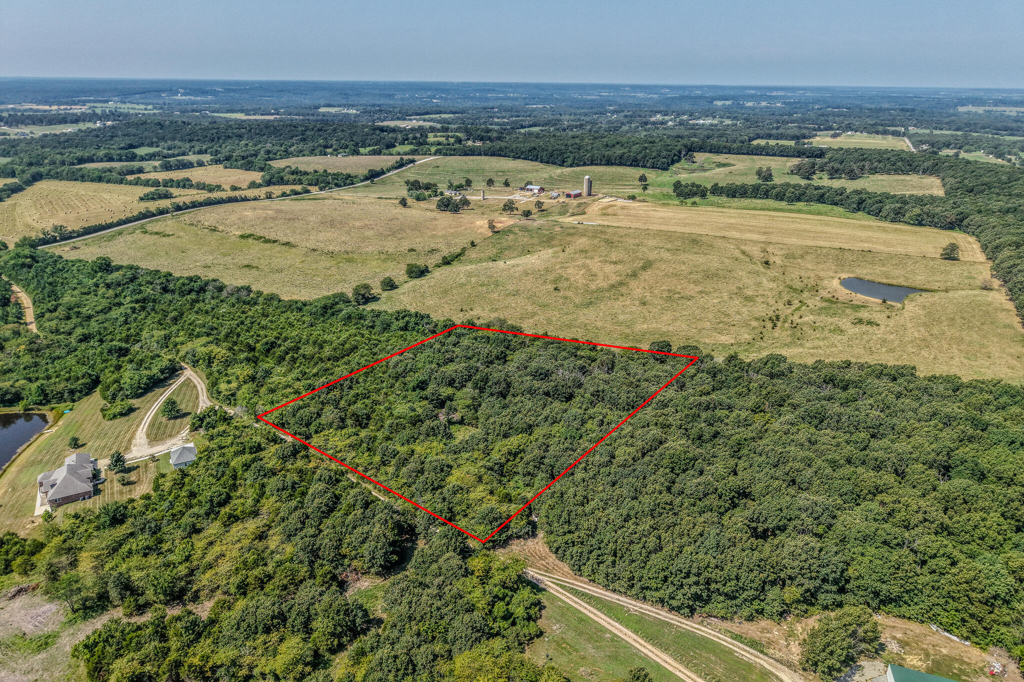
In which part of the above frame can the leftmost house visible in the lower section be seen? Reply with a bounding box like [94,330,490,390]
[37,452,97,509]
